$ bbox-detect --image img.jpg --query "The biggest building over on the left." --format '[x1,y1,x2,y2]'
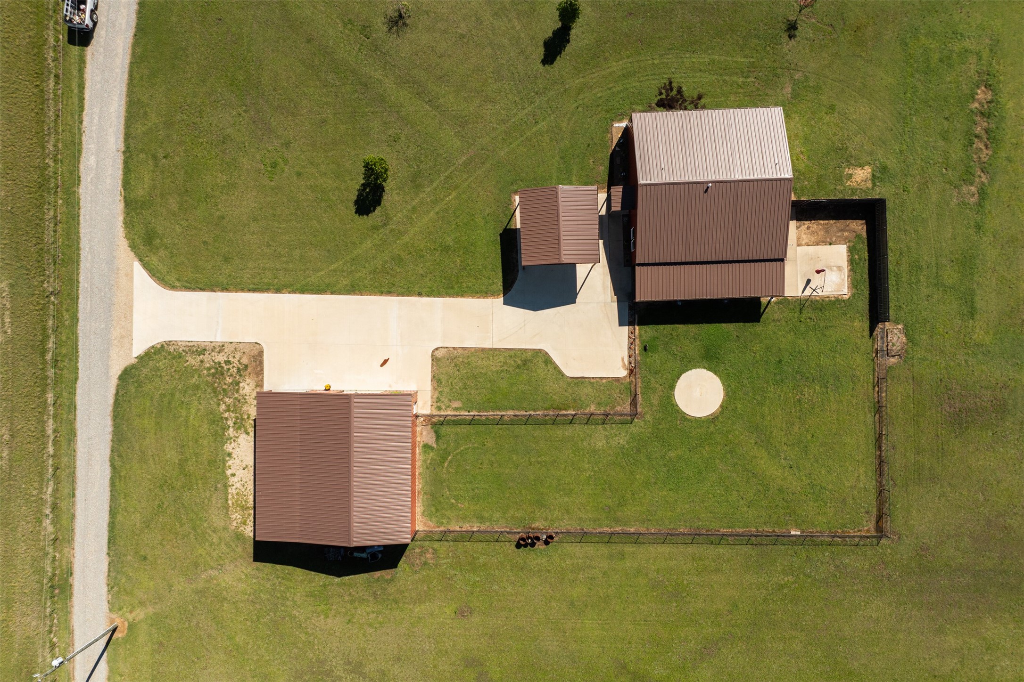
[254,389,418,547]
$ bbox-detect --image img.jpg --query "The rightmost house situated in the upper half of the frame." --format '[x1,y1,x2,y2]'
[608,106,793,303]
